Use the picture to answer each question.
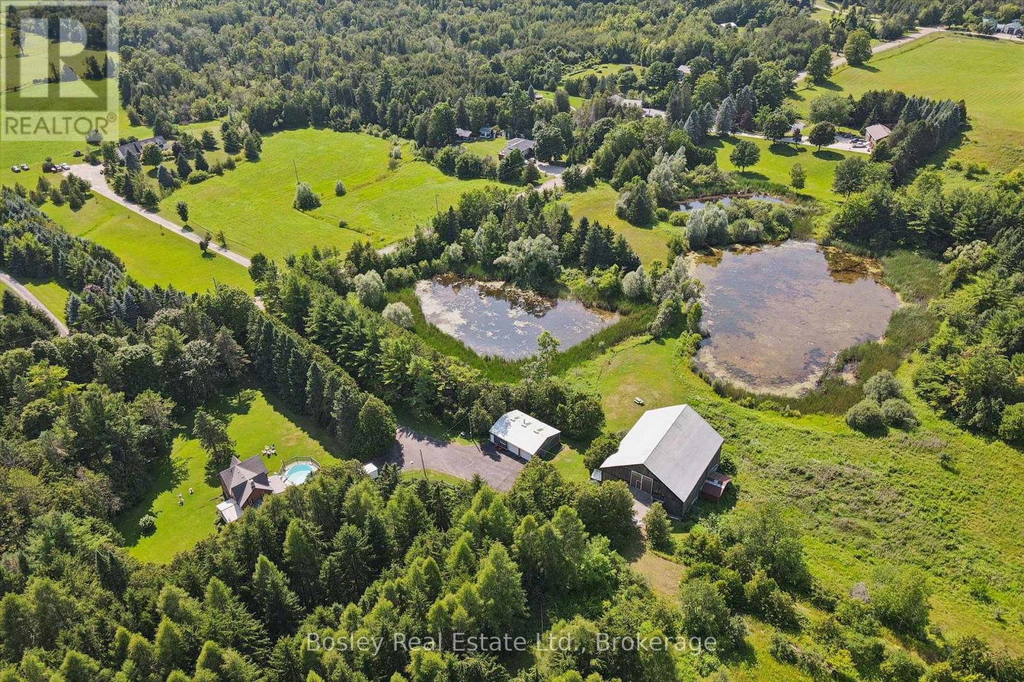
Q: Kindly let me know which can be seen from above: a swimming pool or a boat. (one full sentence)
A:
Looking from above, you can make out a swimming pool.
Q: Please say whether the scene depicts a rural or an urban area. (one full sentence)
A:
The area is rural.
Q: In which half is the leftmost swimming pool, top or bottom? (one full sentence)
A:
The leftmost swimming pool is in the bottom half of the image.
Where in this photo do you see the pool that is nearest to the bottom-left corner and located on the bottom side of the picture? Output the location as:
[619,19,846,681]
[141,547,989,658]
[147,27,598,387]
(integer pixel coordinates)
[278,458,319,492]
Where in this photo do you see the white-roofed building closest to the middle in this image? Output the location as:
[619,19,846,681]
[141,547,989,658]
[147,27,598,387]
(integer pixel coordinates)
[489,410,561,459]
